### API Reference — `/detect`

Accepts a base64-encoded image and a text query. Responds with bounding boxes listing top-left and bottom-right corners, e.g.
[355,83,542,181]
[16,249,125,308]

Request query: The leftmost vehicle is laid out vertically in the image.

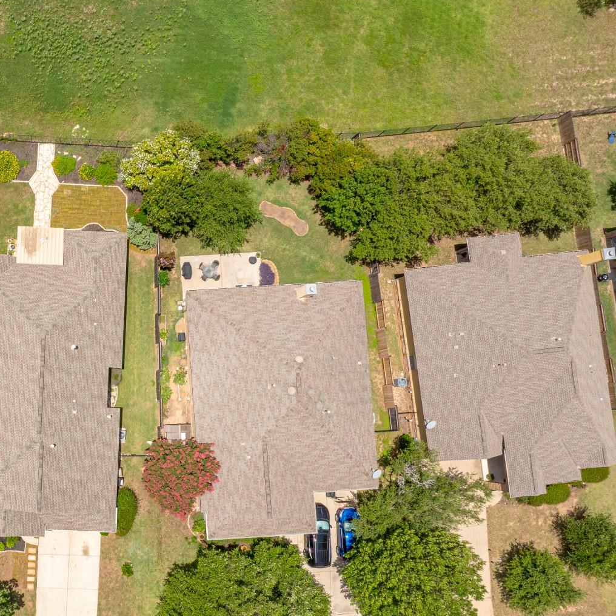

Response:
[304,506,333,564]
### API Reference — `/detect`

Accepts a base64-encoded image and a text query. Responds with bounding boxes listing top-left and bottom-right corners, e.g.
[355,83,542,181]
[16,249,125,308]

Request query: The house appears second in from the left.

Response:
[184,278,379,540]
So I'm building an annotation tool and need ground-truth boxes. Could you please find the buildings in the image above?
[0,229,128,538]
[393,231,616,498]
[184,278,379,540]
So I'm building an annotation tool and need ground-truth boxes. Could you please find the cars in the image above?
[339,506,367,562]
[304,506,333,564]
